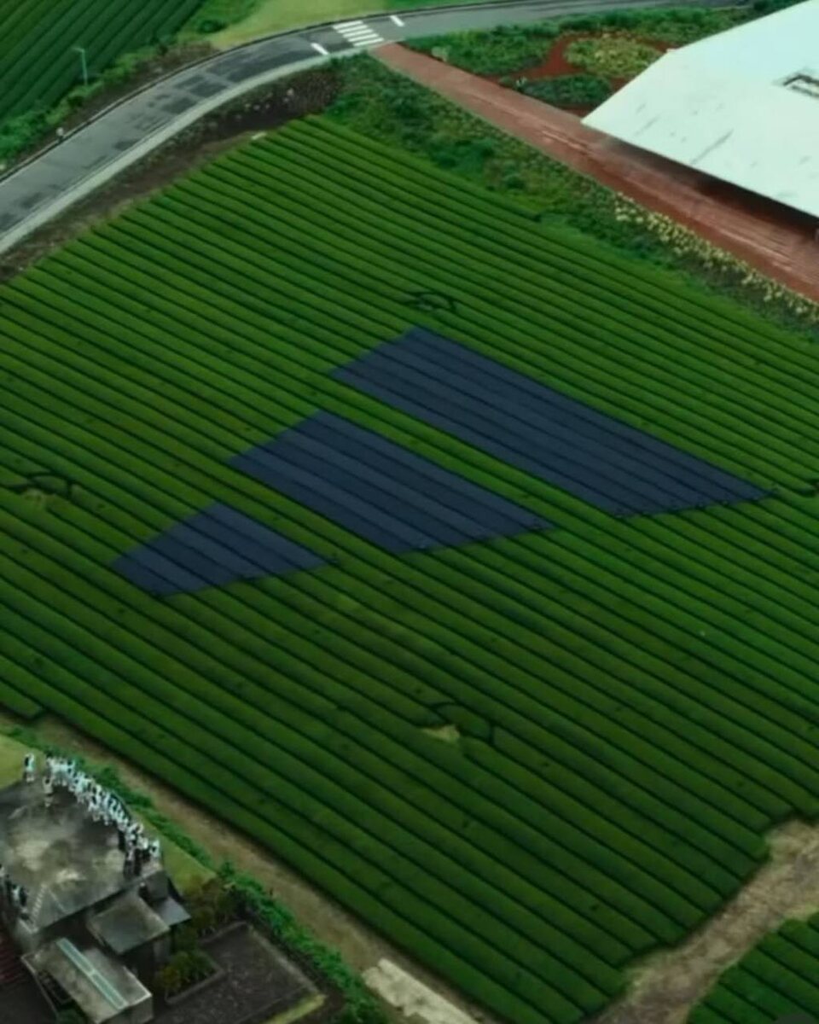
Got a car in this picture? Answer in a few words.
No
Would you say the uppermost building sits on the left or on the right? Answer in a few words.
right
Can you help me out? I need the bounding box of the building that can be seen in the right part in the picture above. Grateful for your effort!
[580,0,819,243]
